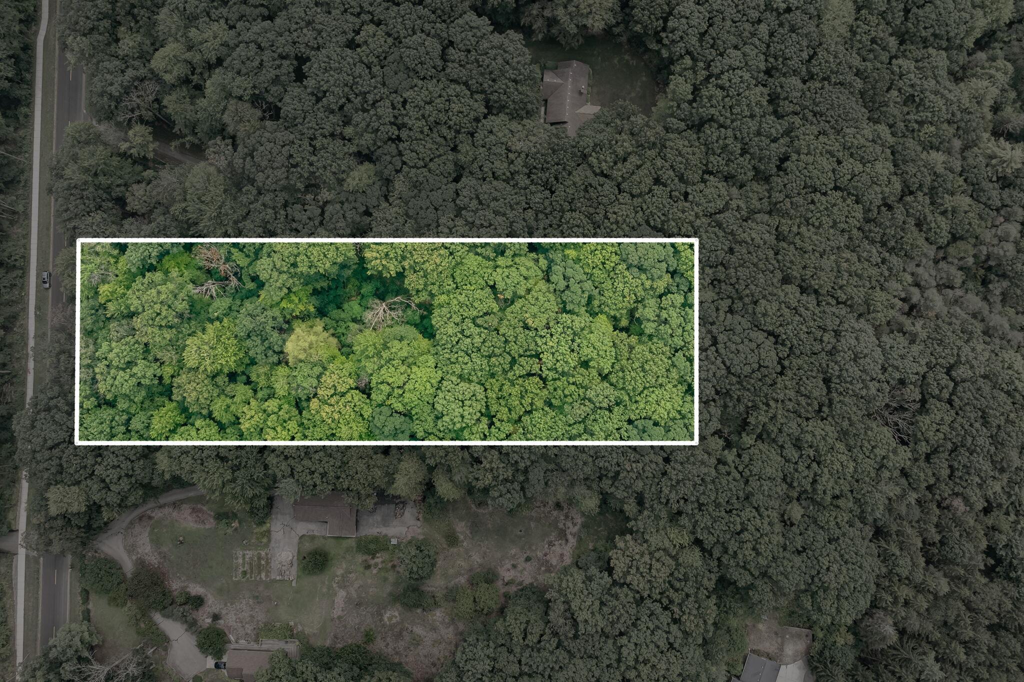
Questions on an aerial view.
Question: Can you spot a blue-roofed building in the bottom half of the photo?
No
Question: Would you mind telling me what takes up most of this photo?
trees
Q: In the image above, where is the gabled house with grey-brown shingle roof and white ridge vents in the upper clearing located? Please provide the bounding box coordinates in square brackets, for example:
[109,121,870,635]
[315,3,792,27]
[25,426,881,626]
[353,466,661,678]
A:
[541,60,601,145]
